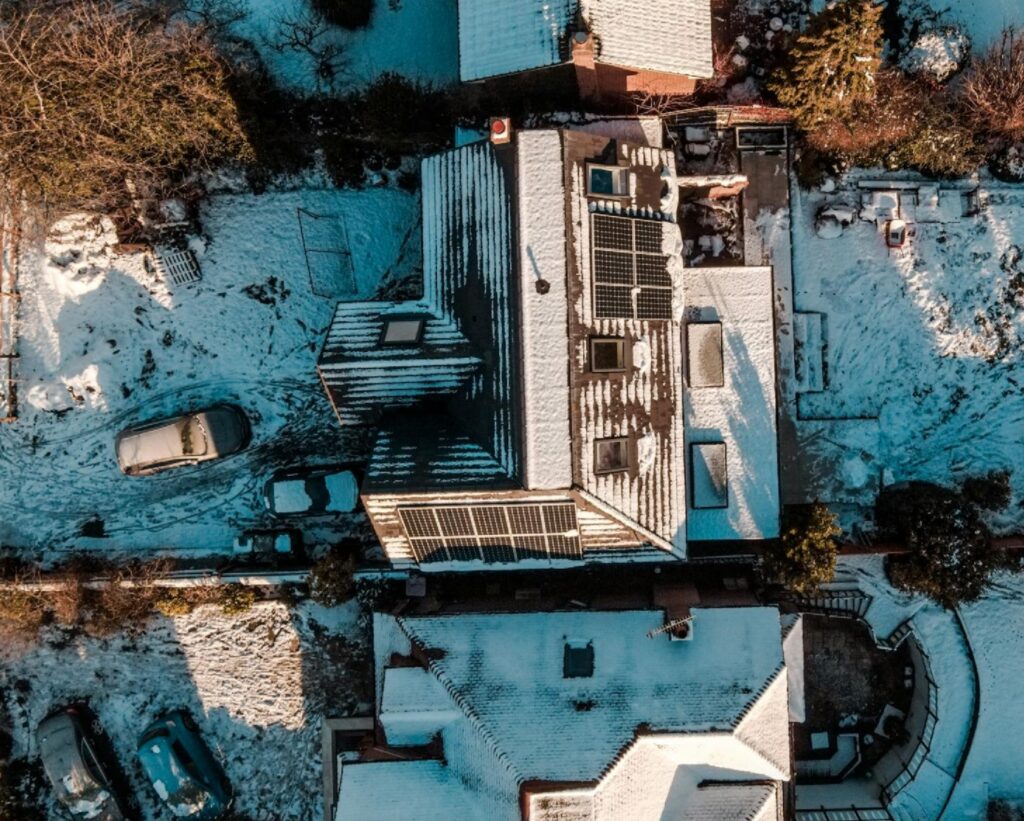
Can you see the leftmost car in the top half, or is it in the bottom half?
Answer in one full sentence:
Seen from above, the leftmost car lies in the bottom half of the view.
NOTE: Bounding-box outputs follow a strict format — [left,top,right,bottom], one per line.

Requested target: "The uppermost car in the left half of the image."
[116,402,261,478]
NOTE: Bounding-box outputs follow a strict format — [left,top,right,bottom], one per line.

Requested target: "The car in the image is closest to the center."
[267,463,366,522]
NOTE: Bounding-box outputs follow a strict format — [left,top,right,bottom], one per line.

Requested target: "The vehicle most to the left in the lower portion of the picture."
[37,700,137,821]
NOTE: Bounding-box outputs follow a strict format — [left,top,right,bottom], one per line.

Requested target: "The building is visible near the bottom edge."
[333,546,804,821]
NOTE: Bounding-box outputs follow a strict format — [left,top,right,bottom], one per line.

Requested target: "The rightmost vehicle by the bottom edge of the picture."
[141,708,238,821]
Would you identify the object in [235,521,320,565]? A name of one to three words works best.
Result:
trailer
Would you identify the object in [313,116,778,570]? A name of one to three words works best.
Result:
house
